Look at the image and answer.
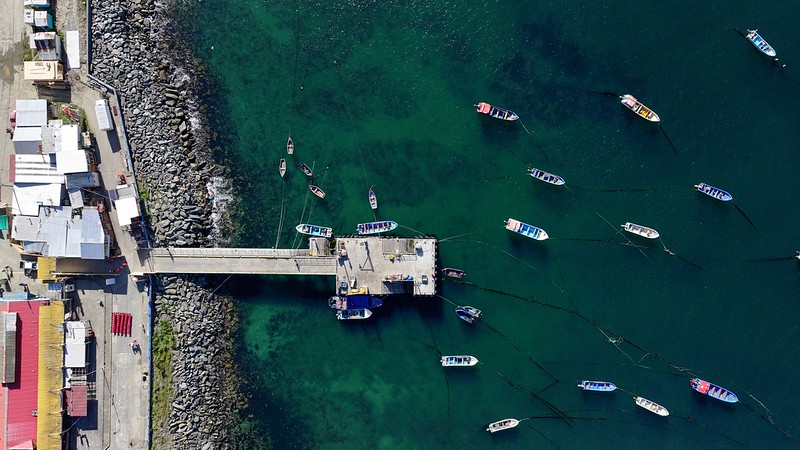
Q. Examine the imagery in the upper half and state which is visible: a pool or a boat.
boat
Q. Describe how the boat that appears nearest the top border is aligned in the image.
diagonally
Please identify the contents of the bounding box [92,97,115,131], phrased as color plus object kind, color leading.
white truck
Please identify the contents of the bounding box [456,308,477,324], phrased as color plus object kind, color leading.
blue boat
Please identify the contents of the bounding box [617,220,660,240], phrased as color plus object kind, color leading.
white boat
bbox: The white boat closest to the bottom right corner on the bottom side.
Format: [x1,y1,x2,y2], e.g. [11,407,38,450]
[630,395,670,415]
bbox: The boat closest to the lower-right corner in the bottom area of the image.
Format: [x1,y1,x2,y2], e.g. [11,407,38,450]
[686,376,739,403]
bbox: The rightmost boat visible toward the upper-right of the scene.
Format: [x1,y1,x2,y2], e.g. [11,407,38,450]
[745,30,777,56]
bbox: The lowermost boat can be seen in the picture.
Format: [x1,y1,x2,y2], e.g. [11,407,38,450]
[483,418,520,434]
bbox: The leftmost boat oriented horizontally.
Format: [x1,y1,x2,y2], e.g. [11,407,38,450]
[295,223,334,238]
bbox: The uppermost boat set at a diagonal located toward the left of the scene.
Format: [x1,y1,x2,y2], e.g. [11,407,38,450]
[301,163,314,177]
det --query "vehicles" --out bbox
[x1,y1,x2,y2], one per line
[92,97,115,131]
[5,106,16,126]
